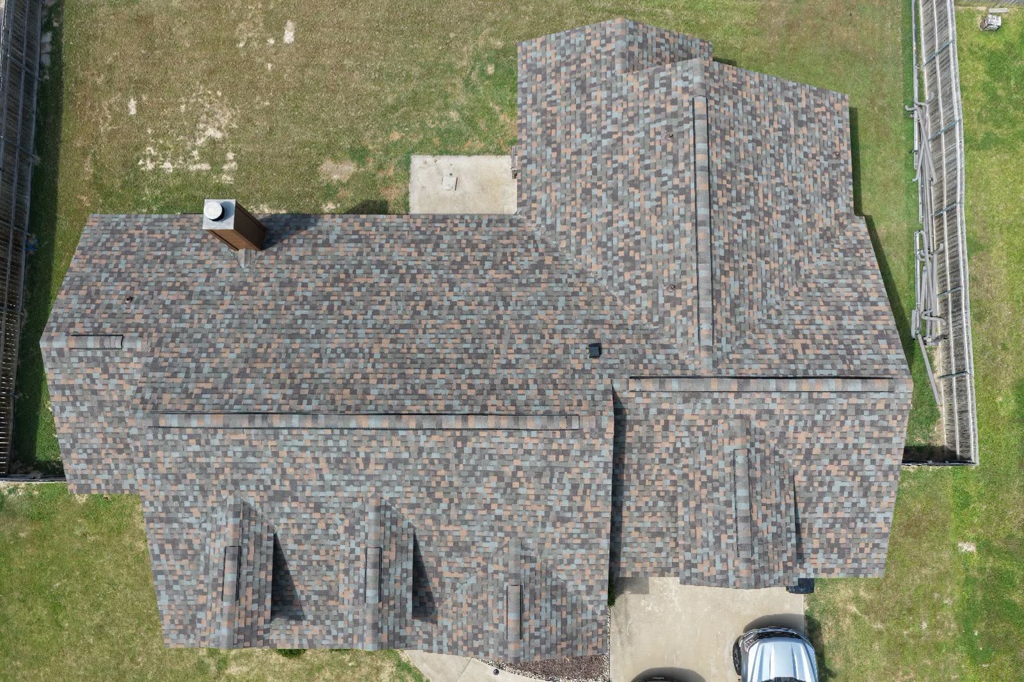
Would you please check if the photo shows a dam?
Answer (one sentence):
No, no dam is visible in the scene.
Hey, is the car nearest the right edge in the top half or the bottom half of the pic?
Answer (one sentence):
The bottom half of the photo is where the car nearest the right edge is.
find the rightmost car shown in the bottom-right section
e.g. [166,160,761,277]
[733,625,817,682]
